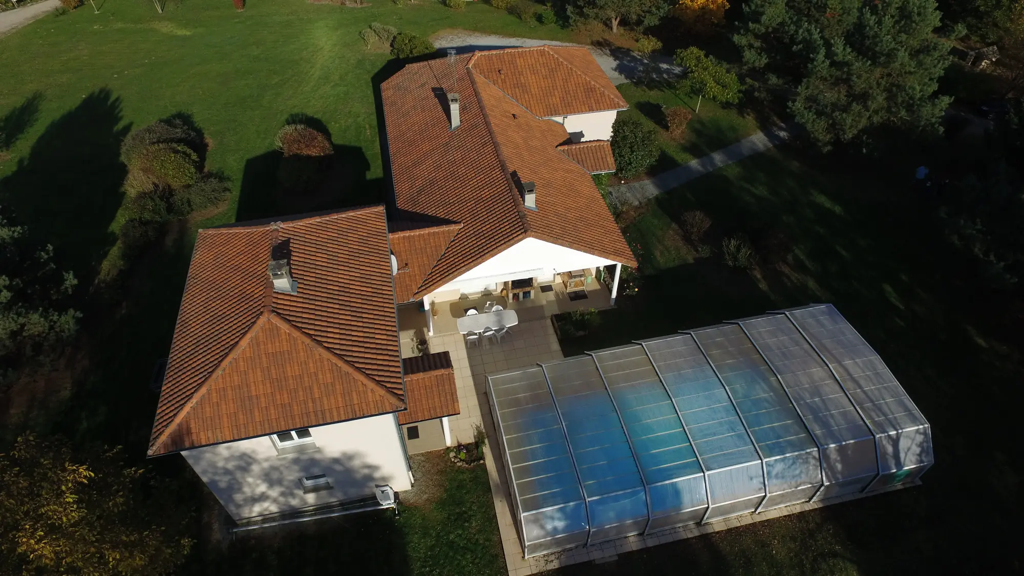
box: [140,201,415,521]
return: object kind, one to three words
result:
building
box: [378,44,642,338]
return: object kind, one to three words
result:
house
